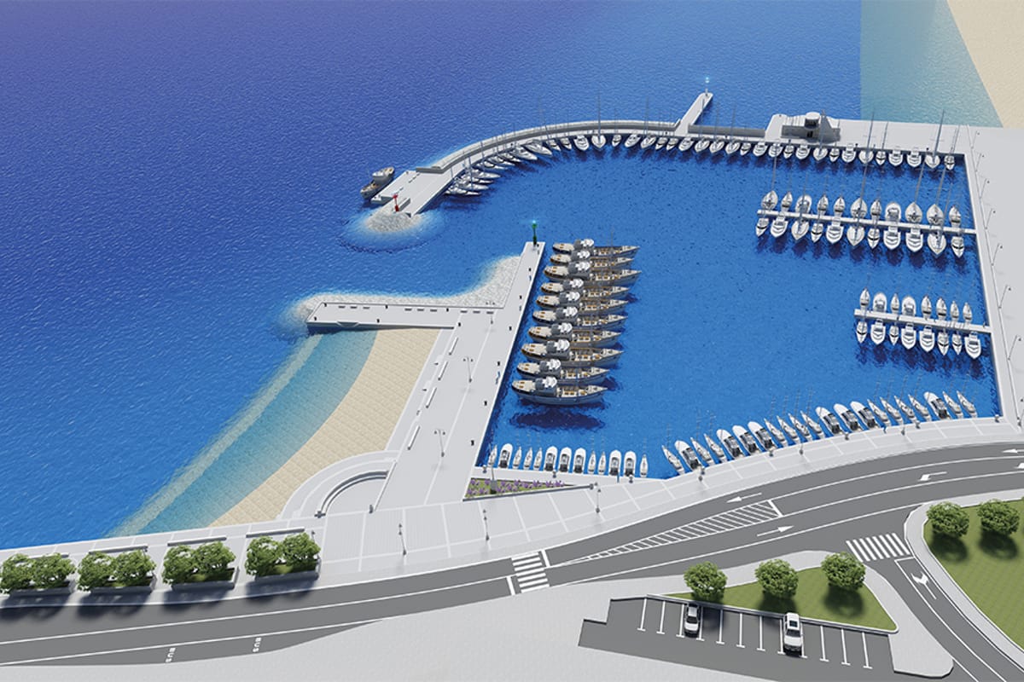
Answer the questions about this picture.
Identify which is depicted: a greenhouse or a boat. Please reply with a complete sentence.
The image shows a boat.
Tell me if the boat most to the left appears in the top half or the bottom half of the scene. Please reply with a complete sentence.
The boat most to the left sits in the top half of the picture.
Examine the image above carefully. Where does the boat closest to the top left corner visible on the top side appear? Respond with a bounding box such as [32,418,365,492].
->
[361,163,398,202]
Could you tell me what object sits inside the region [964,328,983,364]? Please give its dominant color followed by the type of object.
white boat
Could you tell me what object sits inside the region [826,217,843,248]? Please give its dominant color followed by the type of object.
white boat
